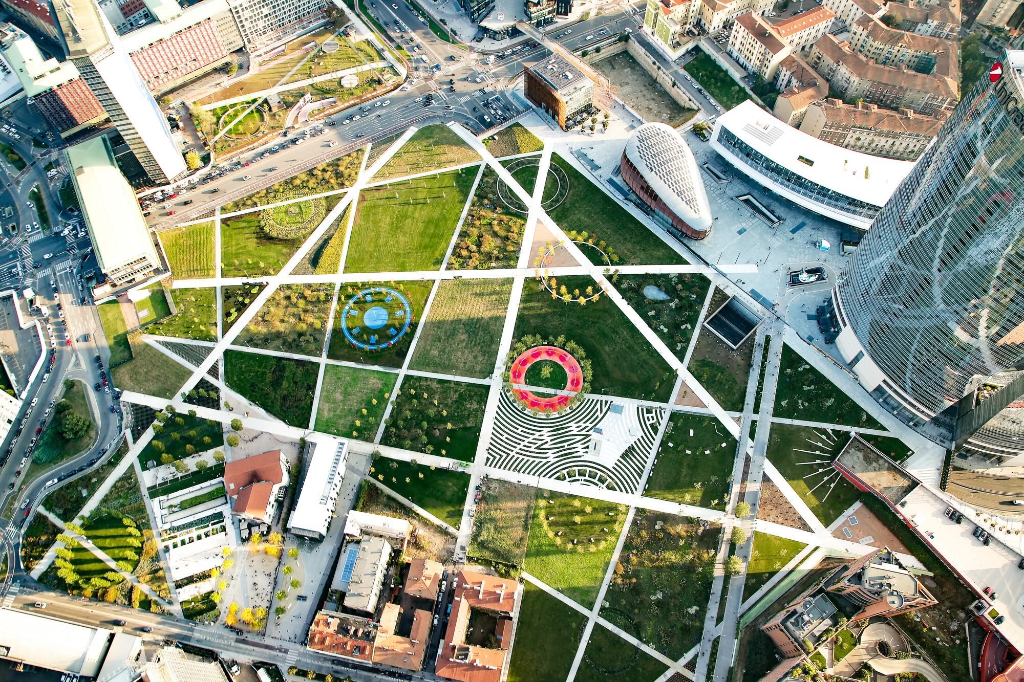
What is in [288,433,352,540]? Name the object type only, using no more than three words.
building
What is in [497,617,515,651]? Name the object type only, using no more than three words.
shed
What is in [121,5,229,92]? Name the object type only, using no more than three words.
building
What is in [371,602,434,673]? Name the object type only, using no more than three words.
house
